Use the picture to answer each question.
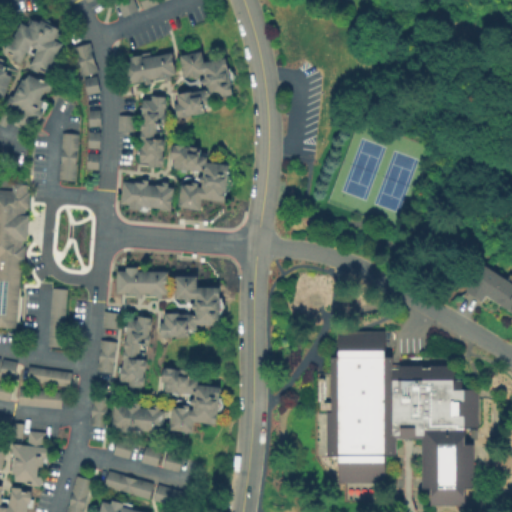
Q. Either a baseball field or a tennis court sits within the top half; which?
tennis court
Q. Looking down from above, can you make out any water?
No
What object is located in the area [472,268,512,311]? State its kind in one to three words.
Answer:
house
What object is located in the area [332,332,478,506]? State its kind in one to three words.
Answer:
building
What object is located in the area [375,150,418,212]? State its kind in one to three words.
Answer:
tennis court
